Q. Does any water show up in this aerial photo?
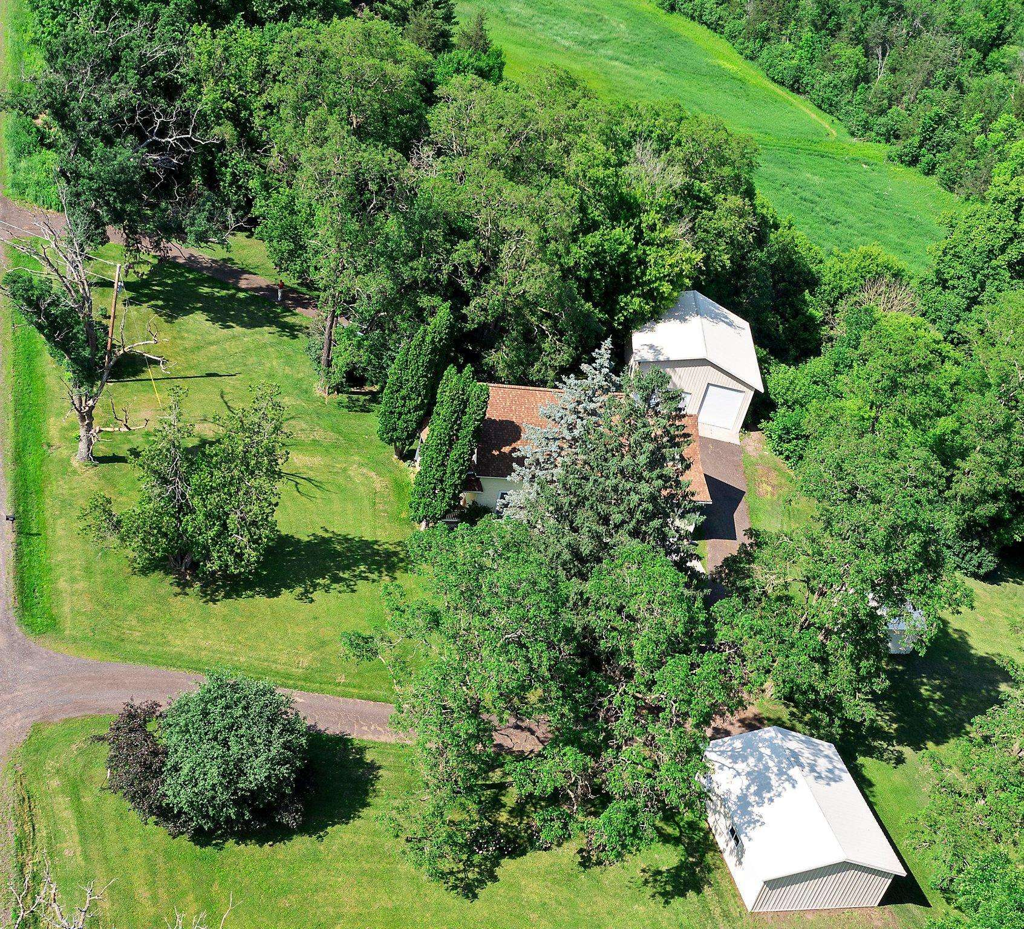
No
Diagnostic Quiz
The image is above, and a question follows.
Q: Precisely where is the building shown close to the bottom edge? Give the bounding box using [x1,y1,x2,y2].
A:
[695,728,906,914]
